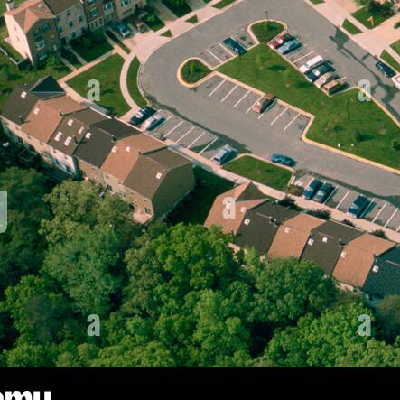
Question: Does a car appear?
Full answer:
Yes, the photo shows a car.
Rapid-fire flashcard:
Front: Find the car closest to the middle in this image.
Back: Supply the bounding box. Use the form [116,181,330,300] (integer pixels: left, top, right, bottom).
[212,142,237,163]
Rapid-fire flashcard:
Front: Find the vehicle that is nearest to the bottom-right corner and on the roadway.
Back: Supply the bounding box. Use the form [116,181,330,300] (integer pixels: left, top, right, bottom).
[347,193,369,214]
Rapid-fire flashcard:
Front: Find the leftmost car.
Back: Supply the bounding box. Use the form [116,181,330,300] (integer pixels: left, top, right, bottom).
[111,16,131,36]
